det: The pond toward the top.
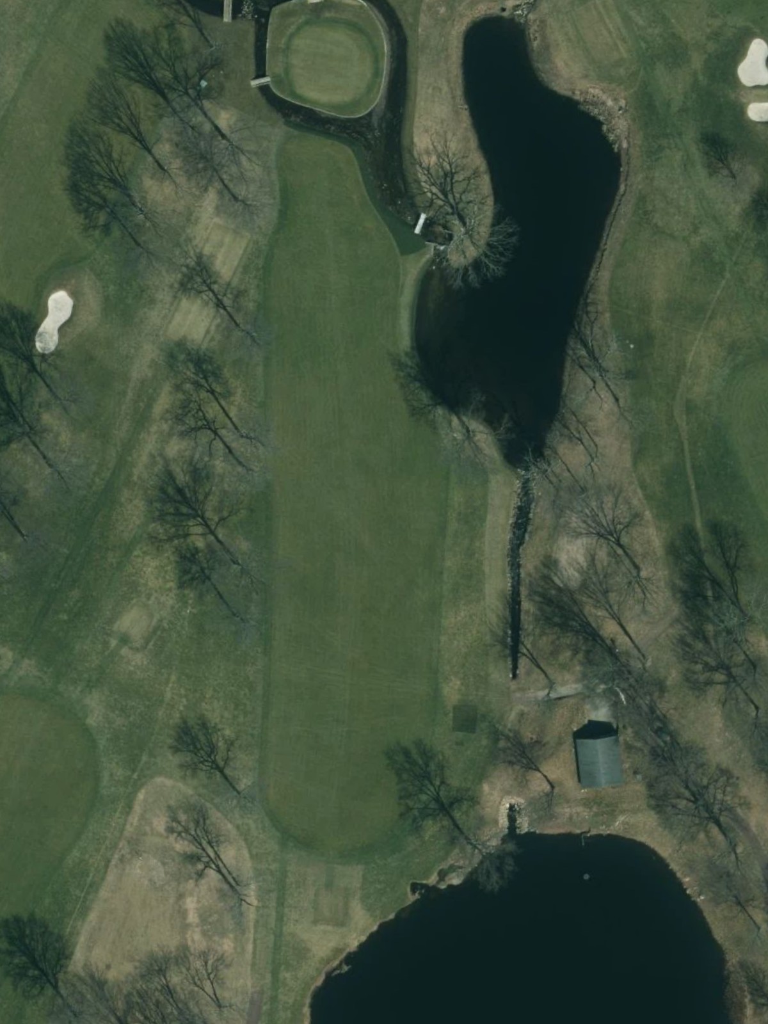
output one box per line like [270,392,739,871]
[415,15,621,474]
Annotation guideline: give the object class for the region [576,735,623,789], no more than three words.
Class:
building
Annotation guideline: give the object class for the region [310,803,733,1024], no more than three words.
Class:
pond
